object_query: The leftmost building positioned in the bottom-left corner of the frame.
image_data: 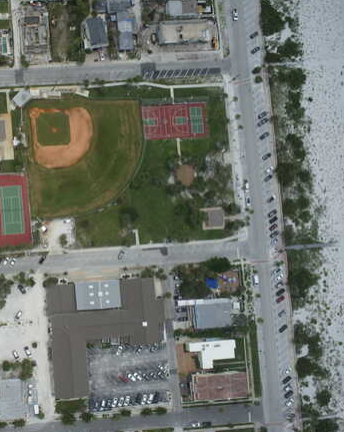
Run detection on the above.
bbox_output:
[0,377,26,420]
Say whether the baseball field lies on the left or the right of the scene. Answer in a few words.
left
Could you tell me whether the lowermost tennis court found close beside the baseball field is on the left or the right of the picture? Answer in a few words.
left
